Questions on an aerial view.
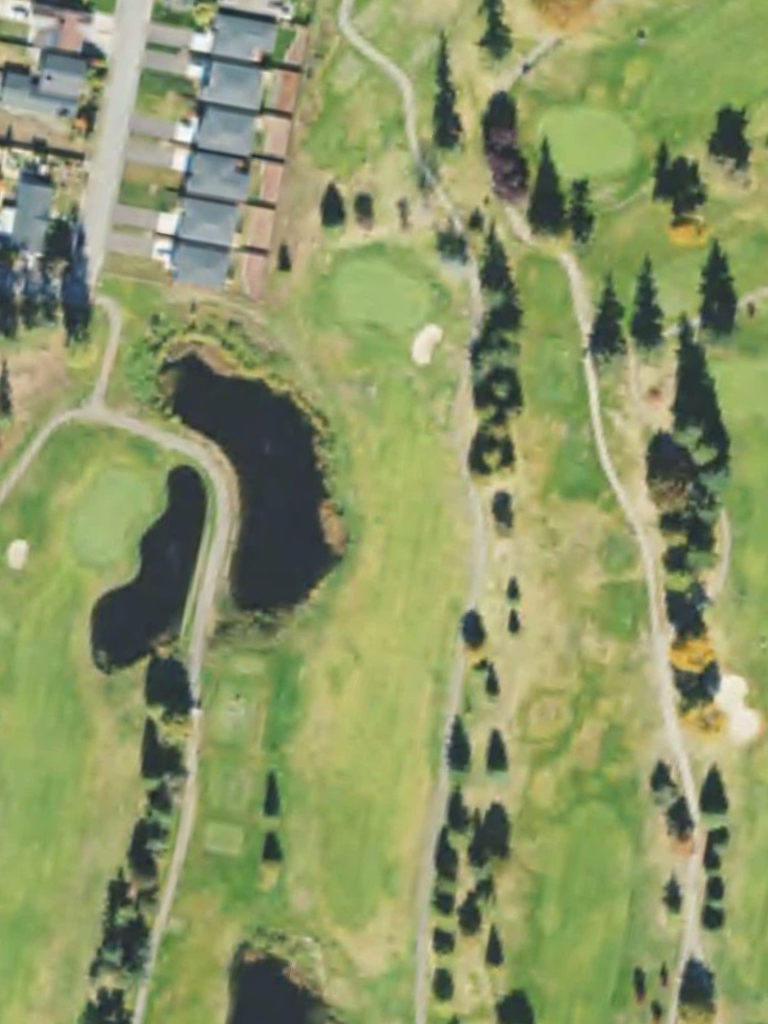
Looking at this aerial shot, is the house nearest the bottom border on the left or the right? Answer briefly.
left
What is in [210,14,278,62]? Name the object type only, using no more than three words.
house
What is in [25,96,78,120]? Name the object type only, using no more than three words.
house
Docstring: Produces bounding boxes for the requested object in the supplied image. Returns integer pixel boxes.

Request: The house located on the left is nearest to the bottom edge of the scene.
[172,242,229,287]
